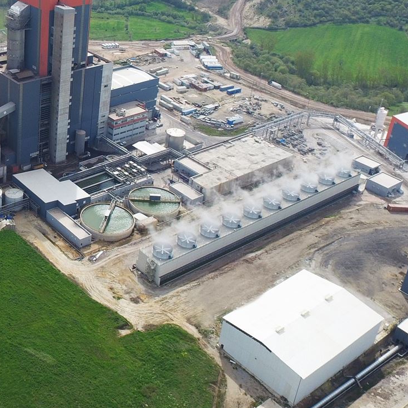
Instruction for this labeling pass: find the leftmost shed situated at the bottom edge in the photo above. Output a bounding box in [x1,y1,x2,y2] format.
[218,269,379,405]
